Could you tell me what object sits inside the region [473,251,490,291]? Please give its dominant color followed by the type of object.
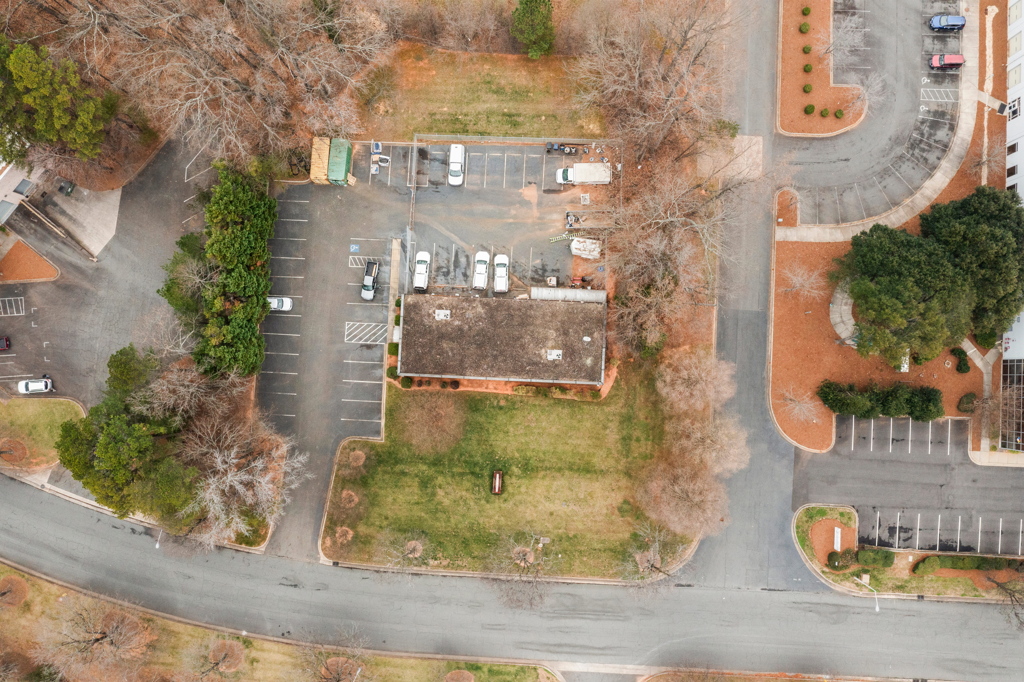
white vehicle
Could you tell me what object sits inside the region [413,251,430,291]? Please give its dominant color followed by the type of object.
white vehicle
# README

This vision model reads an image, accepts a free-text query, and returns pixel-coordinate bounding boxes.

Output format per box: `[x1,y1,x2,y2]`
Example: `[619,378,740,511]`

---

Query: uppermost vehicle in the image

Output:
[928,13,965,32]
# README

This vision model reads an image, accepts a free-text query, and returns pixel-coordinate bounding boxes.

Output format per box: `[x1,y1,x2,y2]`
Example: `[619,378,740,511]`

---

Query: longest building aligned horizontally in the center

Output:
[397,290,606,386]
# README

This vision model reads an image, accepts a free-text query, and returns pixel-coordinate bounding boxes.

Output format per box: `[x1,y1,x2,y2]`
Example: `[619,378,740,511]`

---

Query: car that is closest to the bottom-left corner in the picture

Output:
[18,378,54,395]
